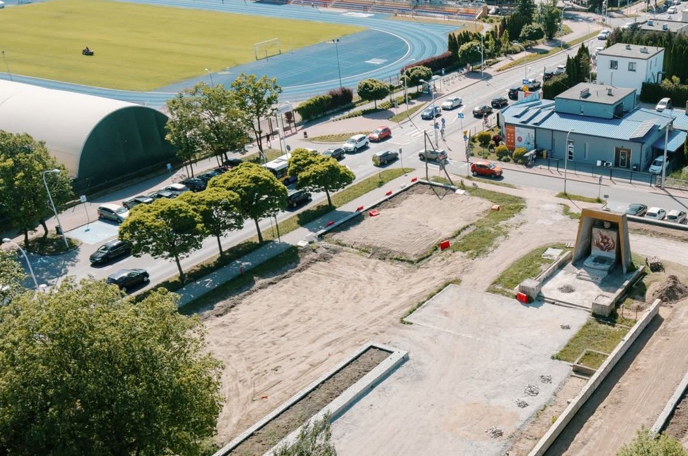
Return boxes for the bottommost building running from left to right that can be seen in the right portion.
[497,82,688,175]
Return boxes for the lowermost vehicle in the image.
[103,266,151,289]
